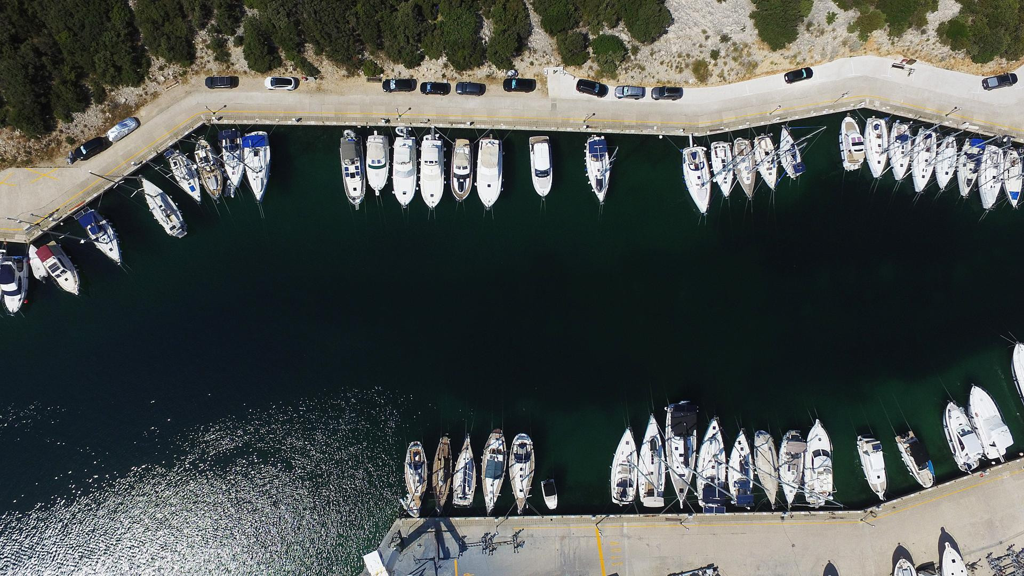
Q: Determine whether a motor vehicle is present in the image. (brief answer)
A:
Yes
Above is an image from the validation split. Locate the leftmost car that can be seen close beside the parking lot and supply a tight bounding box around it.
[503,77,534,94]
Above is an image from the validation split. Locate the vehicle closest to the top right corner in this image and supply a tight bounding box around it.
[980,72,1017,91]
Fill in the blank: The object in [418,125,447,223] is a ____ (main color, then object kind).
white boat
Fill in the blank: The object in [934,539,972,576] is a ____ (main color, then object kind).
white boat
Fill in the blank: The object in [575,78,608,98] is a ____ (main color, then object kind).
black car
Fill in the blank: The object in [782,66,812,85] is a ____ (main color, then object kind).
black car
